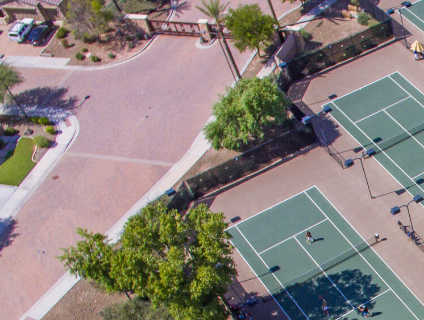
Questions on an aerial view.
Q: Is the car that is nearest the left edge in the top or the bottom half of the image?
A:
top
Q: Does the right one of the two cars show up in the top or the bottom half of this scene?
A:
top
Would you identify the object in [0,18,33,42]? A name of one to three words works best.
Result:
car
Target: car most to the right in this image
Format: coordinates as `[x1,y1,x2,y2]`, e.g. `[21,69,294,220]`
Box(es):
[22,24,52,47]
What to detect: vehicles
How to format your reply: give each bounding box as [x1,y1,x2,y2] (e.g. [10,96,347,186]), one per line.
[22,24,52,47]
[0,18,33,42]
